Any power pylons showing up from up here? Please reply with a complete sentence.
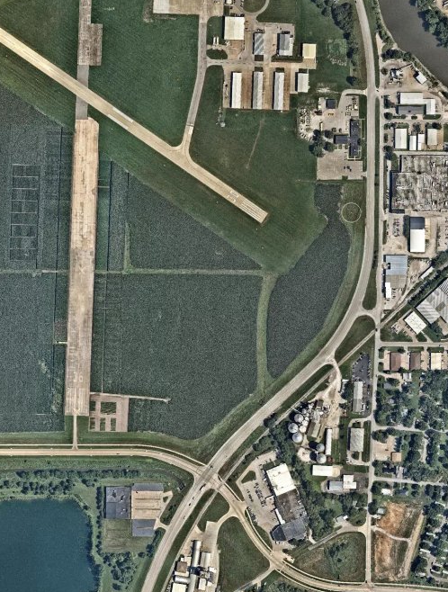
No, this view has no power pylon in it.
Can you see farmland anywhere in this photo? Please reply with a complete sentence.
Yes, farmland shows up in the scene.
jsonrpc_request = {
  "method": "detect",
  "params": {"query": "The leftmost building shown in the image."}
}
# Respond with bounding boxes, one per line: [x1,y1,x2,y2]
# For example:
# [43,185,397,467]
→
[105,486,131,518]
